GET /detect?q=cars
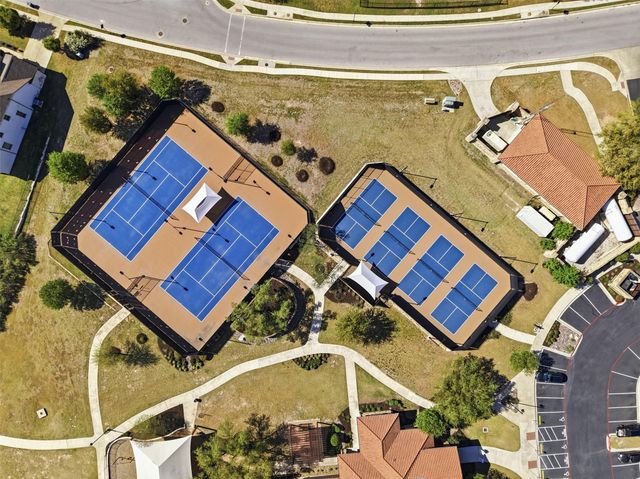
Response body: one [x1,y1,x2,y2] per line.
[620,424,640,438]
[539,373,565,386]
[621,451,640,466]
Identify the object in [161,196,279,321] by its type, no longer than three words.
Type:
tennis court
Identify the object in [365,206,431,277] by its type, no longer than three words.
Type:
sports court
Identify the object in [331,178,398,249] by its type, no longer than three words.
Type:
sports court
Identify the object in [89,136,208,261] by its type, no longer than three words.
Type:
tennis court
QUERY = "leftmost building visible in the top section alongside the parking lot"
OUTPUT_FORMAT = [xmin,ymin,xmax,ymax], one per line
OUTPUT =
[496,113,617,230]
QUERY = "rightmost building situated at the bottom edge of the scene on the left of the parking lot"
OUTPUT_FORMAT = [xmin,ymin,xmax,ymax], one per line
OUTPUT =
[336,409,465,479]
